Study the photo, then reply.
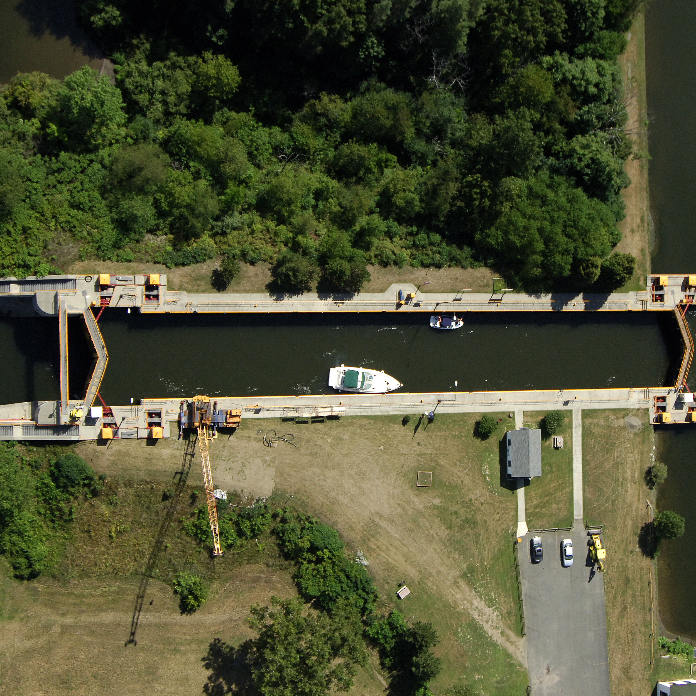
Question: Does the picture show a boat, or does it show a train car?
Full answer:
There is a boat in the scene.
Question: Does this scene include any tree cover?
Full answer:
Yes, the picture does contain tree cover.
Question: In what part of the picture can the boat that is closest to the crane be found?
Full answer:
The boat that is closest to the crane appears toward the center of the photo.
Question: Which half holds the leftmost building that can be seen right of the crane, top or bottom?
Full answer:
It is in the bottom half that the leftmost building that can be seen right of the crane appears.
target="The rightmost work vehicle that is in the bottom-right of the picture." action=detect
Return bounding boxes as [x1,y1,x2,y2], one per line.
[586,529,605,572]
